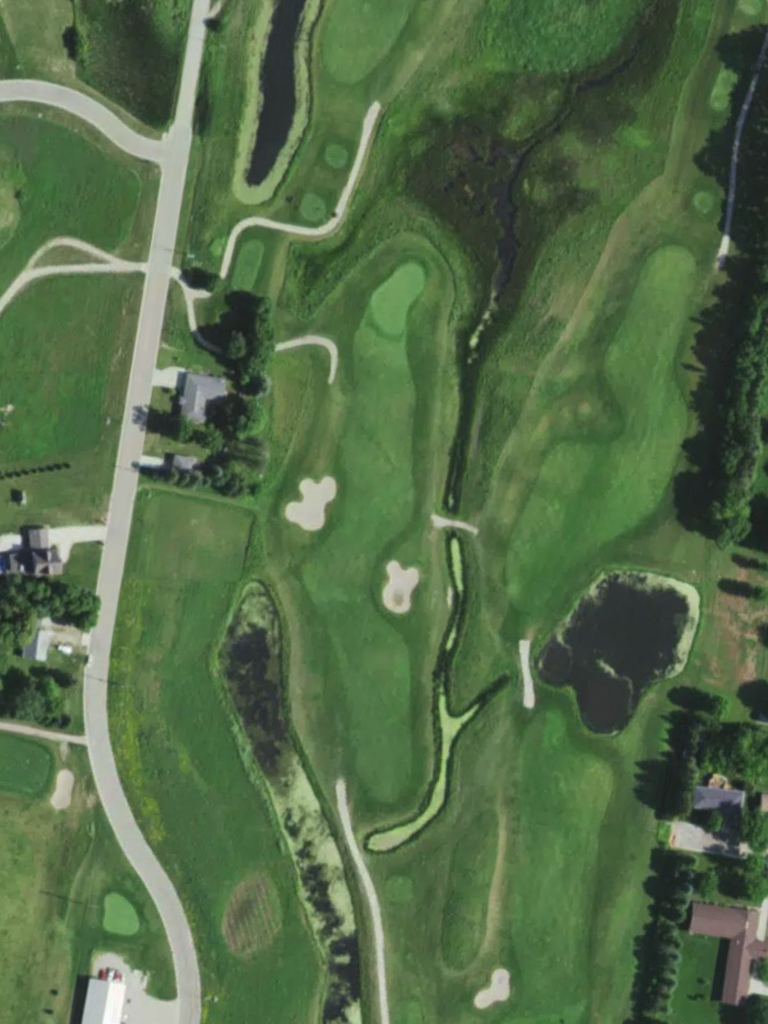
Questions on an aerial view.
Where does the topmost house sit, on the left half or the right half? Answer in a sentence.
The topmost house sits on the left side.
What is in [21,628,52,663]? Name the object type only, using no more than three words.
shed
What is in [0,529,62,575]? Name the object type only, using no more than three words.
house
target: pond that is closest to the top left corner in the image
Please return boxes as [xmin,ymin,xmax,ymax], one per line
[234,0,322,204]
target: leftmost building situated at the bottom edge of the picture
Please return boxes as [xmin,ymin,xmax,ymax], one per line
[82,982,126,1024]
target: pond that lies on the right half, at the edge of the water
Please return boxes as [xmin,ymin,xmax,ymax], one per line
[536,568,700,736]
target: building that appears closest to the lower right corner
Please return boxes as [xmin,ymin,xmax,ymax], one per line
[688,902,768,1009]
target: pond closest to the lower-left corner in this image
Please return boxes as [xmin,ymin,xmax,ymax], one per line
[220,581,361,1024]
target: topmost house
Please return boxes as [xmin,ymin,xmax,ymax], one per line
[179,370,231,423]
